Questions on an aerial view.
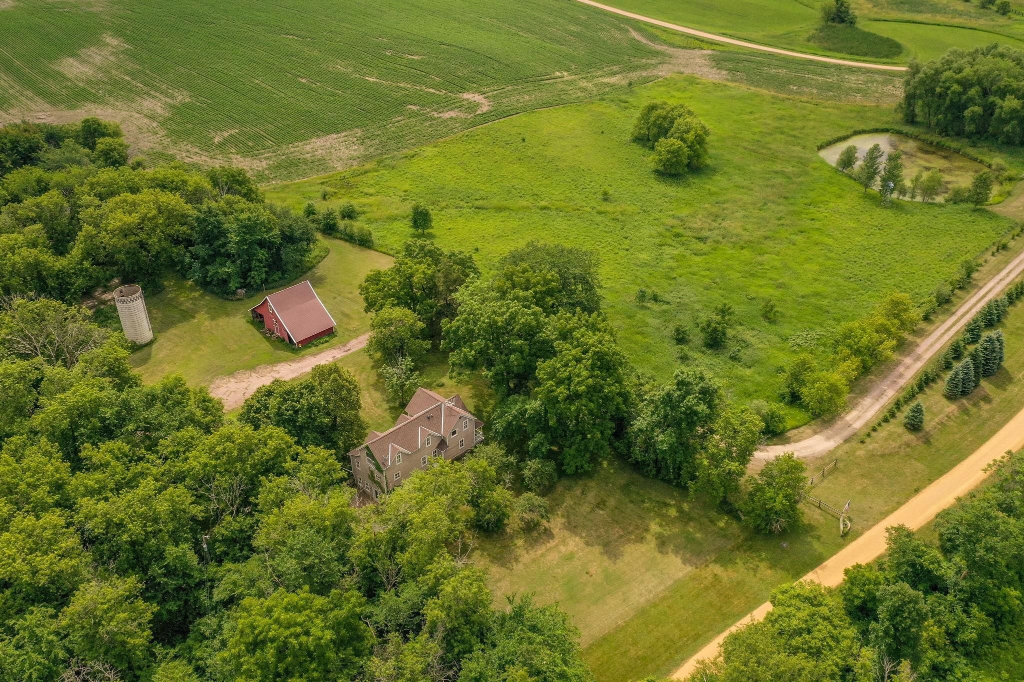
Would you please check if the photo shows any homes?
Yes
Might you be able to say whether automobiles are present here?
No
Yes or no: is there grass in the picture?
Yes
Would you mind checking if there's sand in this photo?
No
